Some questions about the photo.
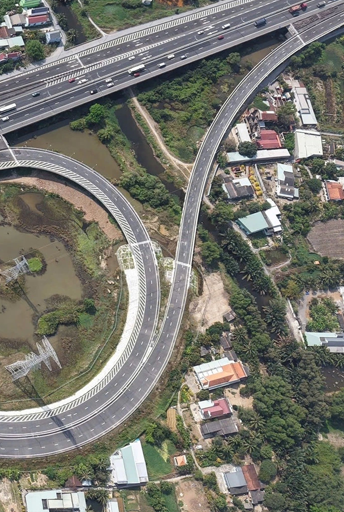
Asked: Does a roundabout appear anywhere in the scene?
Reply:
No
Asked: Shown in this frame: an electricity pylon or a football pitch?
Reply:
electricity pylon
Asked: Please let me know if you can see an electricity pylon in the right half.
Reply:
No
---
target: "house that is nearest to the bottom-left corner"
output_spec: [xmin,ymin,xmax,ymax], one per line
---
[24,493,48,512]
